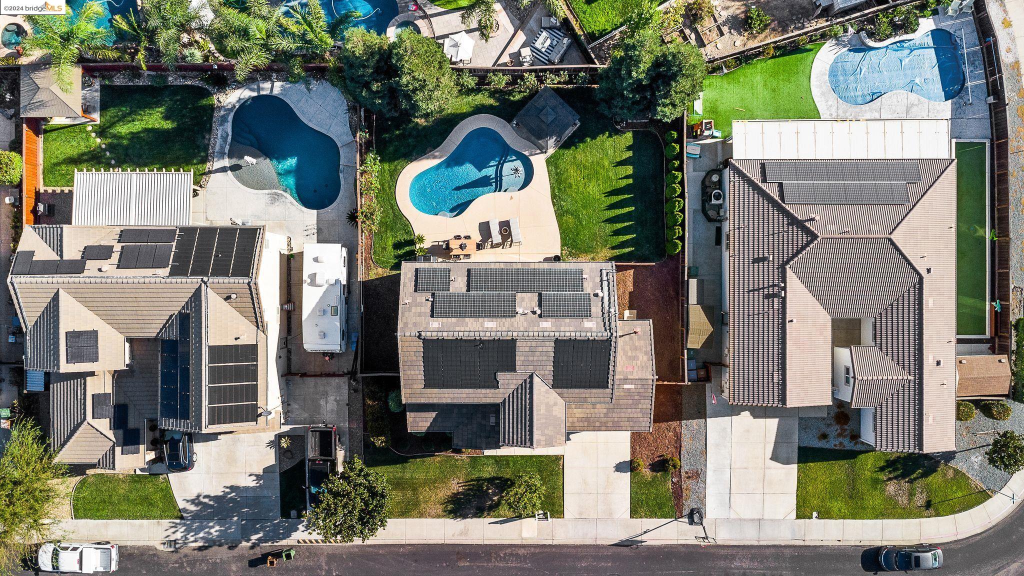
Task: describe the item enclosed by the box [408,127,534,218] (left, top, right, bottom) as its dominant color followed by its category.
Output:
blue swimming pool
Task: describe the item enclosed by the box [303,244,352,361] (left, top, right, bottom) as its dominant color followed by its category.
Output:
white trailer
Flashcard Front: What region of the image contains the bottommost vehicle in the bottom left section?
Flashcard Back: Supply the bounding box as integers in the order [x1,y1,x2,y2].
[40,540,120,574]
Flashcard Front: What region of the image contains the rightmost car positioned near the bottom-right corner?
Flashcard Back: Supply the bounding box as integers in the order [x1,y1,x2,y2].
[877,542,942,572]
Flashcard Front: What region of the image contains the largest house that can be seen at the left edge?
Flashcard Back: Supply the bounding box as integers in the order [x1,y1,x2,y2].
[6,224,297,470]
